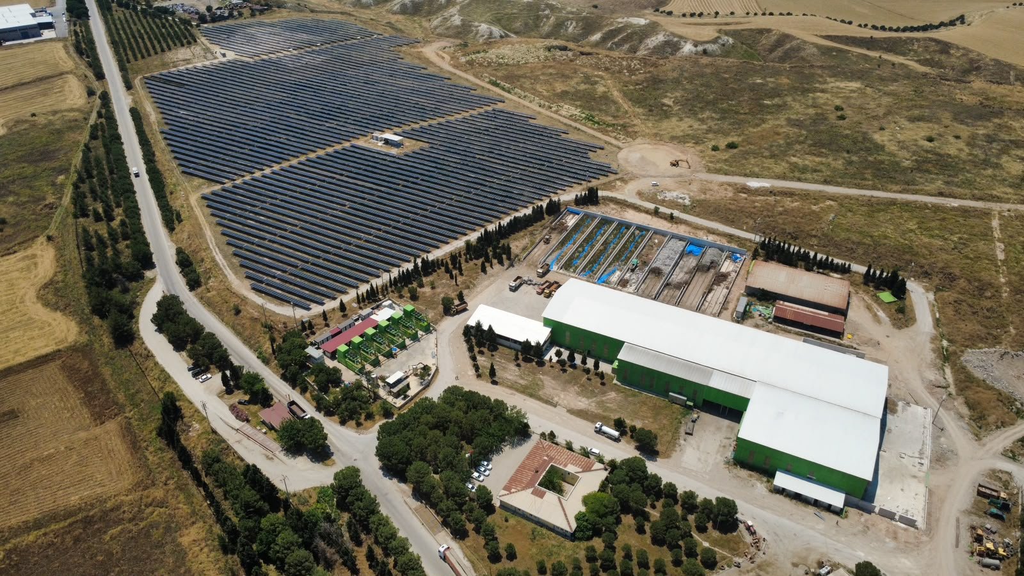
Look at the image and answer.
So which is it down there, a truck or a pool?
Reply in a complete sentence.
I can see a truck in this picture.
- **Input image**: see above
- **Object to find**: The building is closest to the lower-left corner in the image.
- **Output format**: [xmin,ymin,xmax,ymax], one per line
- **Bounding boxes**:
[258,401,297,433]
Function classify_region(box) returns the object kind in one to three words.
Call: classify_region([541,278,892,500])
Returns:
building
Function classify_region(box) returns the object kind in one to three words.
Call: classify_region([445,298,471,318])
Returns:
vehicle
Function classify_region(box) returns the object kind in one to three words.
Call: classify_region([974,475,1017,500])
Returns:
truck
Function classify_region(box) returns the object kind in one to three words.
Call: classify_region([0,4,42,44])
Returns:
building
